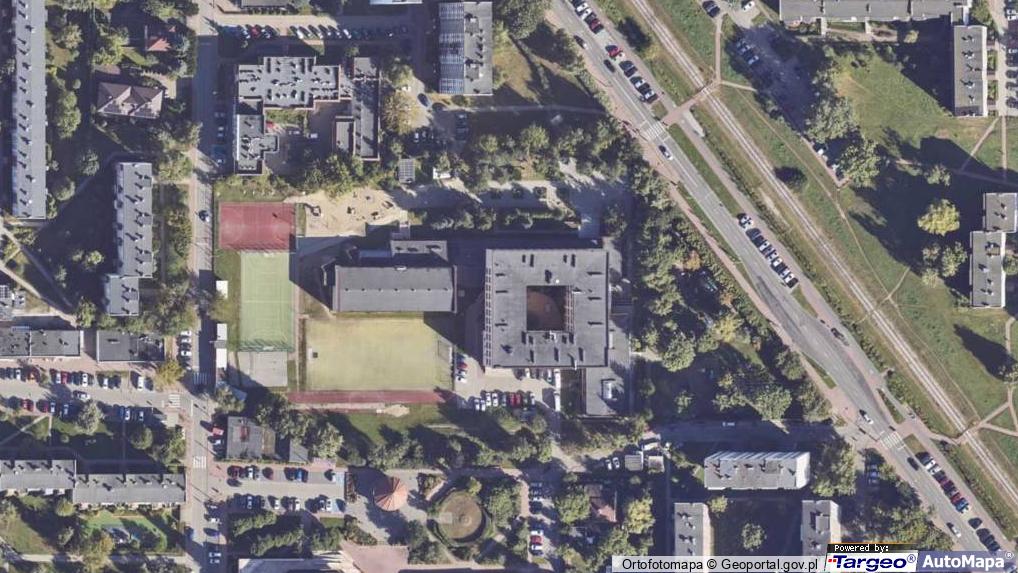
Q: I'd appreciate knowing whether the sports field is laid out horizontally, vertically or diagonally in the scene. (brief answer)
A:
horizontally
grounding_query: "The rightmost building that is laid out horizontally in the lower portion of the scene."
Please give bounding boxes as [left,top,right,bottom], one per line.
[703,451,810,490]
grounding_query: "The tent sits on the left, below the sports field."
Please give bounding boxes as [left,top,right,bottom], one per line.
[373,477,407,510]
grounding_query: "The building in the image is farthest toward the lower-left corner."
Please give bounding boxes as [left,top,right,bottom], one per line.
[0,456,77,493]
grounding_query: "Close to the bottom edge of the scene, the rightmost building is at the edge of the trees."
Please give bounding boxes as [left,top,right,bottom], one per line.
[797,499,838,573]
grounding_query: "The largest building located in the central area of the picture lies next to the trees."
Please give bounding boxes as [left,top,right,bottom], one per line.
[484,248,608,371]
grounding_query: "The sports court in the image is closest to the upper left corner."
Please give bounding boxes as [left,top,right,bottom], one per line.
[218,202,295,250]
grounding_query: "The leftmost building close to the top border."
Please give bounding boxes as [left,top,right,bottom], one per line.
[11,0,49,219]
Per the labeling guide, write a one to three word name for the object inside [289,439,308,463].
shed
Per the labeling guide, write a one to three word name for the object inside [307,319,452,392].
sports field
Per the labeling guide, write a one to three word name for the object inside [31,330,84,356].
building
